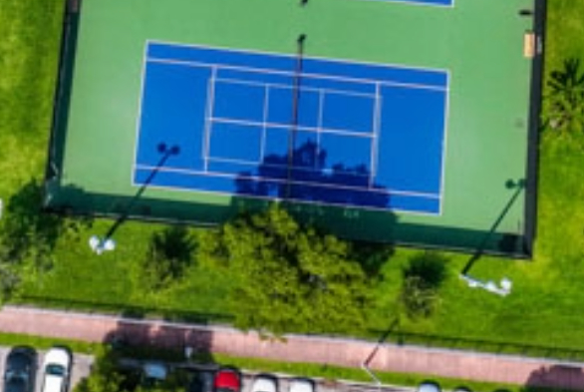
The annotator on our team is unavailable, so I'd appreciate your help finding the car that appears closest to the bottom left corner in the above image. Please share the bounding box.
[4,349,34,392]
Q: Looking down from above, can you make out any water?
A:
No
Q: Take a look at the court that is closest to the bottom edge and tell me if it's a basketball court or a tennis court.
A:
tennis court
